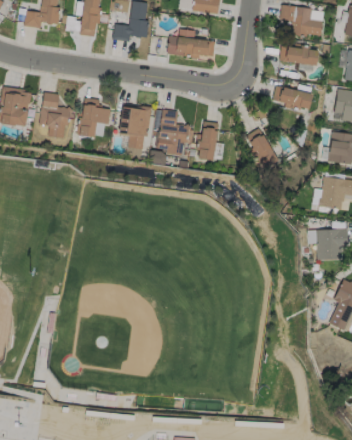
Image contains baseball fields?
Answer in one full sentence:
Yes, a baseball field can be made out from above.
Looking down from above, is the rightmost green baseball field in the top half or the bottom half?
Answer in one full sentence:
The rightmost green baseball field is in the bottom half of the image.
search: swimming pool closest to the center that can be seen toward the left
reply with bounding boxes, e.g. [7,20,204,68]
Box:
[112,134,126,156]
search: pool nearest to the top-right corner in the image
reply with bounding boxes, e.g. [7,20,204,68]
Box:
[308,65,326,80]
